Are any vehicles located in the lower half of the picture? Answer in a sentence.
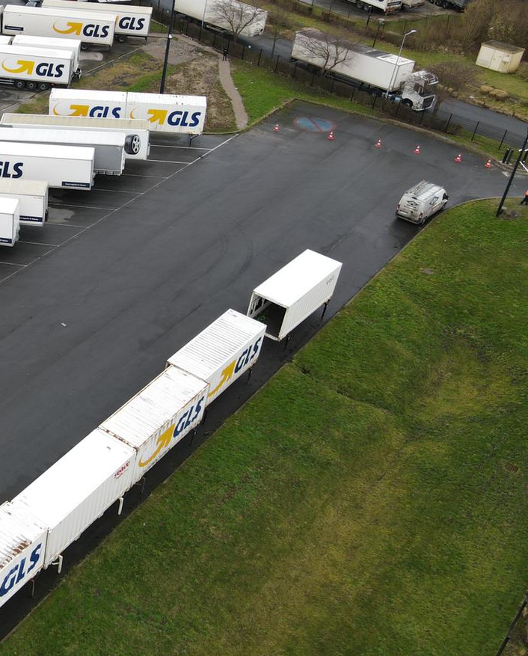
No, there's no vehicle to be seen in the lower half of the picture.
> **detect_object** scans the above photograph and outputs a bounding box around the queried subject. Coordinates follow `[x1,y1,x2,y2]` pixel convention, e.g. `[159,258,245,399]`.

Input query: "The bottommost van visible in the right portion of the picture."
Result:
[401,180,449,219]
